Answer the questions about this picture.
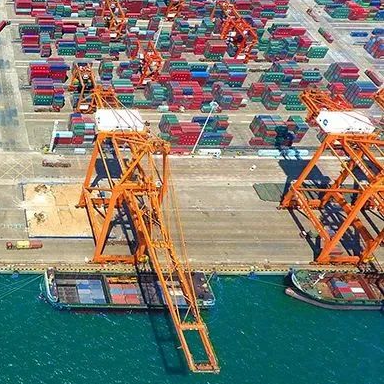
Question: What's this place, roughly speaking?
port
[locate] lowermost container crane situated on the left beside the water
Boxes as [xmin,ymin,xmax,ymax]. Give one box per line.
[72,87,227,373]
